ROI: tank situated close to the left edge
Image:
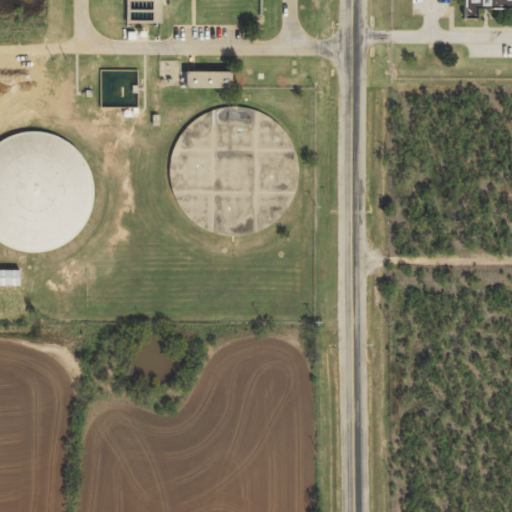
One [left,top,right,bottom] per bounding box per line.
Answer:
[0,130,96,250]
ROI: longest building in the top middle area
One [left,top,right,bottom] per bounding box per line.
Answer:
[186,68,234,88]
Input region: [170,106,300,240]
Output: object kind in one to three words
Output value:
storage tank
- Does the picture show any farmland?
Yes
